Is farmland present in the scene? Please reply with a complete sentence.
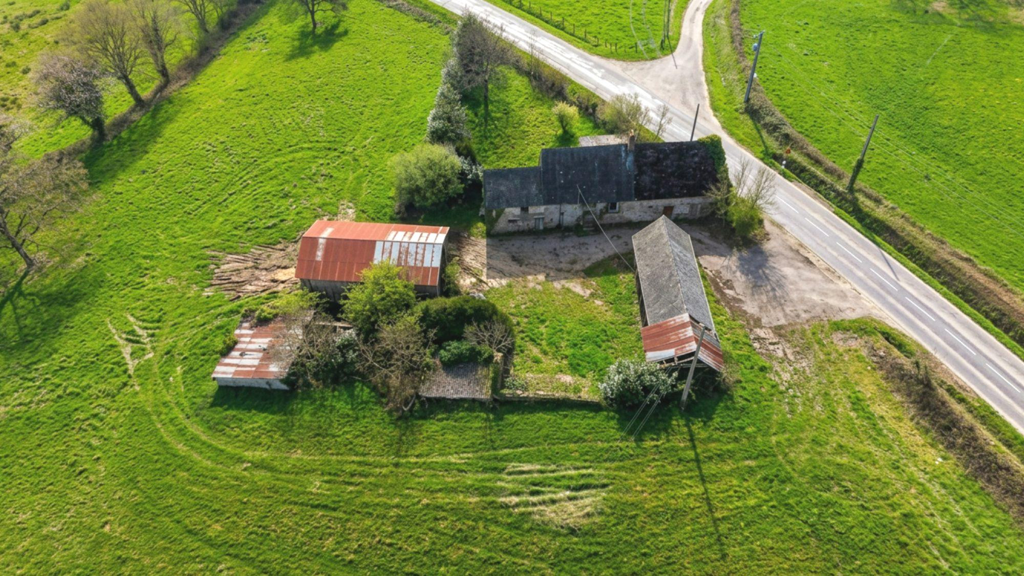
Yes, there is farmland in the image.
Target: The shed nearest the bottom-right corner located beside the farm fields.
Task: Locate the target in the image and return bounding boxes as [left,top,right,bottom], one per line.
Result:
[631,215,723,387]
